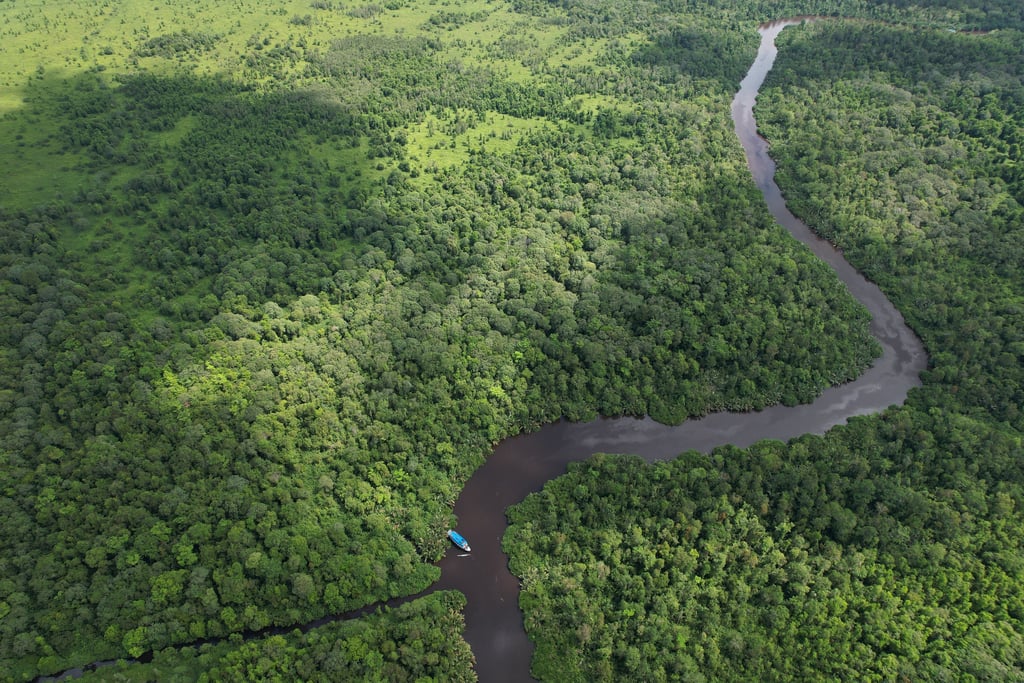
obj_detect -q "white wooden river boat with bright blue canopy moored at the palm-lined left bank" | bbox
[446,528,471,552]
